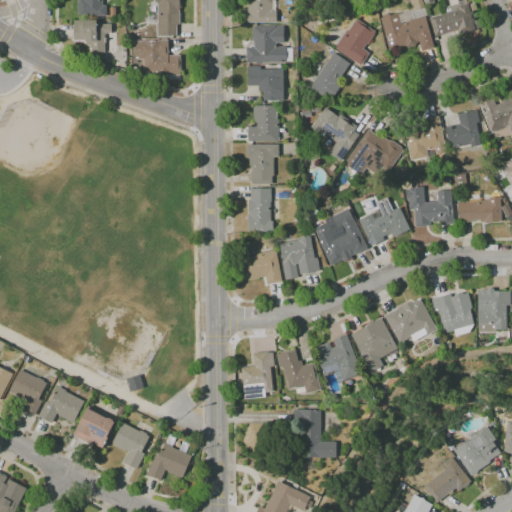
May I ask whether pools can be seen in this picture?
Yes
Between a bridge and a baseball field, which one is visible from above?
baseball field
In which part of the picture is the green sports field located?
left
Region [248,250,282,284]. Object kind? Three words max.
house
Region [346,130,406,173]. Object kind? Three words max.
house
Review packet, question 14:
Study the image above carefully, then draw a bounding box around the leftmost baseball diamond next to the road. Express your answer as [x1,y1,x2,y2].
[0,74,78,179]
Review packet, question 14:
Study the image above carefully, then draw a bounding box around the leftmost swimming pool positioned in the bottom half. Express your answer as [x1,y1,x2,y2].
[326,374,344,396]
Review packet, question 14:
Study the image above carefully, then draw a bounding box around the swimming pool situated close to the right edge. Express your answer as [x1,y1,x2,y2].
[454,414,489,440]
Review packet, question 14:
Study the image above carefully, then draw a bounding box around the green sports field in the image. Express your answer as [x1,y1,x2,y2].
[0,71,196,405]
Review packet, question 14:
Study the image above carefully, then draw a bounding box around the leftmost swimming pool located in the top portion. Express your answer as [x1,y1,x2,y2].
[309,162,330,192]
